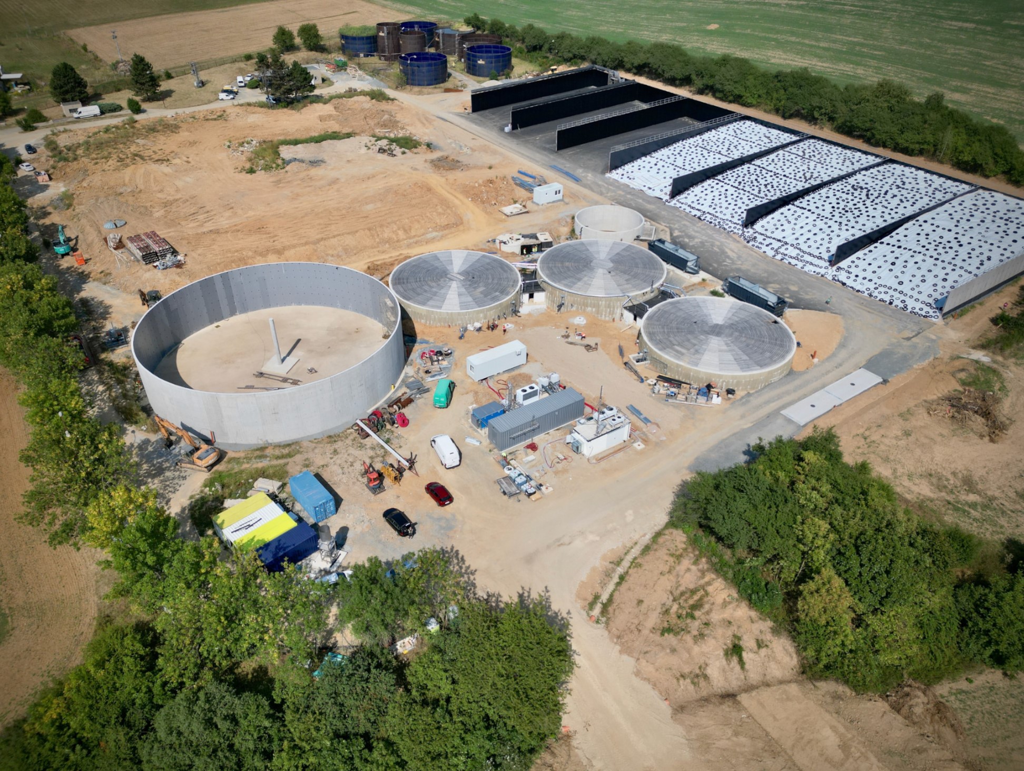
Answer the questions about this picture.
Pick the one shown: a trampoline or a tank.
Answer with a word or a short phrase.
tank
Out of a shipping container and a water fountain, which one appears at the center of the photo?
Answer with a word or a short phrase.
shipping container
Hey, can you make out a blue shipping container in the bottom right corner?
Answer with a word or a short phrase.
No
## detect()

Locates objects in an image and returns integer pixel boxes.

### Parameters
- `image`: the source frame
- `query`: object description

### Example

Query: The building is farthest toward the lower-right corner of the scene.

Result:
[572,407,633,458]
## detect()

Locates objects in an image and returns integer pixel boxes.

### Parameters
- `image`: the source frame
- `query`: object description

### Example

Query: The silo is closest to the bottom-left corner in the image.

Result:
[316,529,335,567]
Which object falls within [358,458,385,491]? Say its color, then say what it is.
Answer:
red work vehicle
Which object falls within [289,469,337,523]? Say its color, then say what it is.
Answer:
blue shipping container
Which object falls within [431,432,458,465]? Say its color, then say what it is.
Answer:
white vehicle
